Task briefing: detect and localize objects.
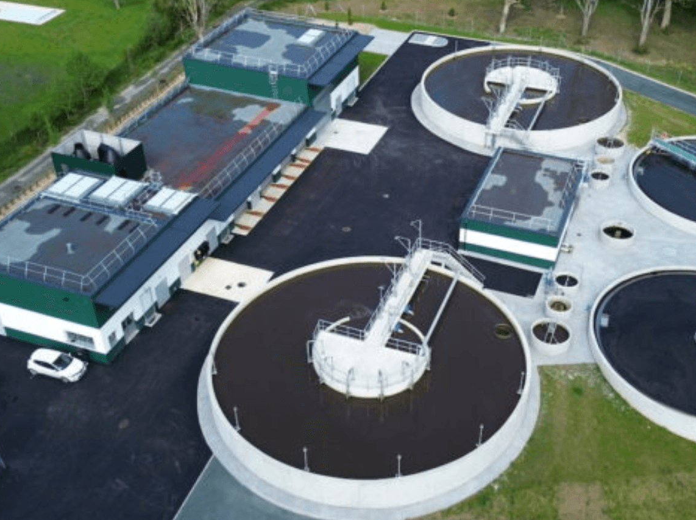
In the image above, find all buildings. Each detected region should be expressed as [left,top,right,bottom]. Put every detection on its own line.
[456,146,593,271]
[0,9,377,364]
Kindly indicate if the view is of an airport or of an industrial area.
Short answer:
industrial area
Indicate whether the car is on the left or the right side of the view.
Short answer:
left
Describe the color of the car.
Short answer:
white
